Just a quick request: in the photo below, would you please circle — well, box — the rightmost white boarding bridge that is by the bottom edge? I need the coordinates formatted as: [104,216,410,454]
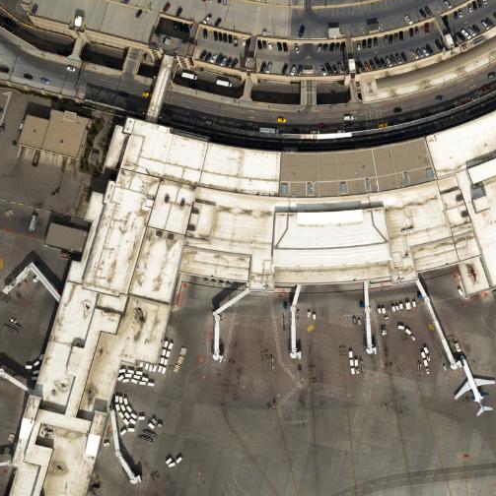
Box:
[109,411,143,486]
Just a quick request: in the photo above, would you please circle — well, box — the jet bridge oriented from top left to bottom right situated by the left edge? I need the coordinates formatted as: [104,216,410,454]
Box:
[0,370,30,393]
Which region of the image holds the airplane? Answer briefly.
bottom right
